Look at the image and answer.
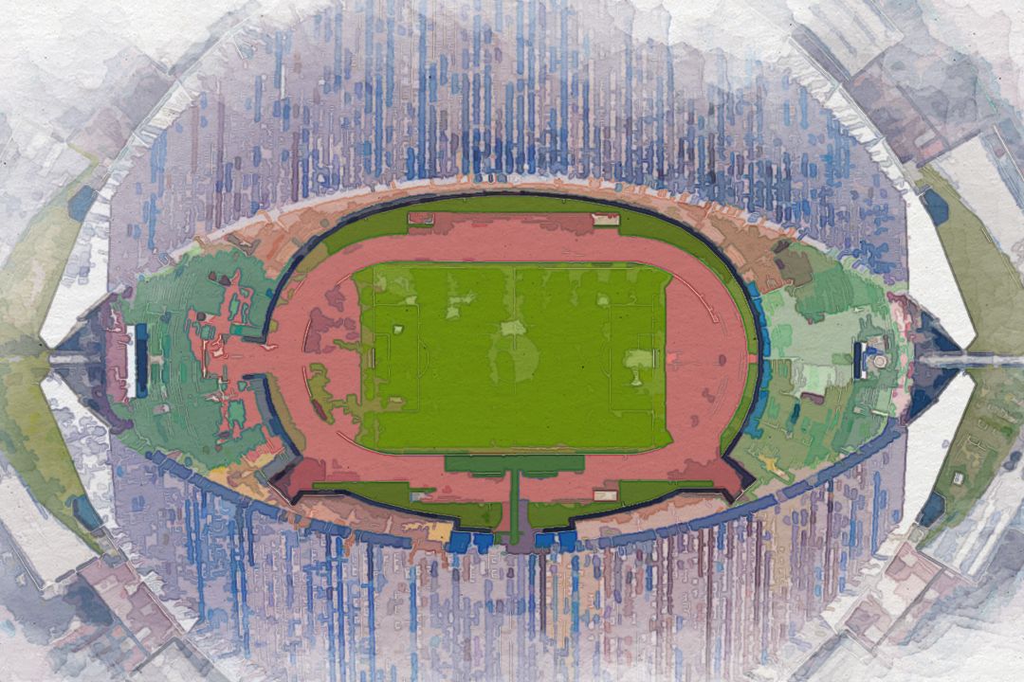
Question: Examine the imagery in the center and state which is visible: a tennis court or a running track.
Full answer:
What appears in the center is a running track.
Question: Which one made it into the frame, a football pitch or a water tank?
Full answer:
It is a football pitch that can be seen here.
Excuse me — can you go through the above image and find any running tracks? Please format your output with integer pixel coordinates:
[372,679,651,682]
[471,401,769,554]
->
[262,203,757,543]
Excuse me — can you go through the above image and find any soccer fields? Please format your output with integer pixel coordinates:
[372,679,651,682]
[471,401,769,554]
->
[351,260,675,454]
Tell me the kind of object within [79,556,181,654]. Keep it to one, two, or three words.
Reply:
building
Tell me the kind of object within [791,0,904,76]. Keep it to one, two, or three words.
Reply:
building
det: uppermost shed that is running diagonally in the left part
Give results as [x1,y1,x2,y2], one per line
[168,1,266,79]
